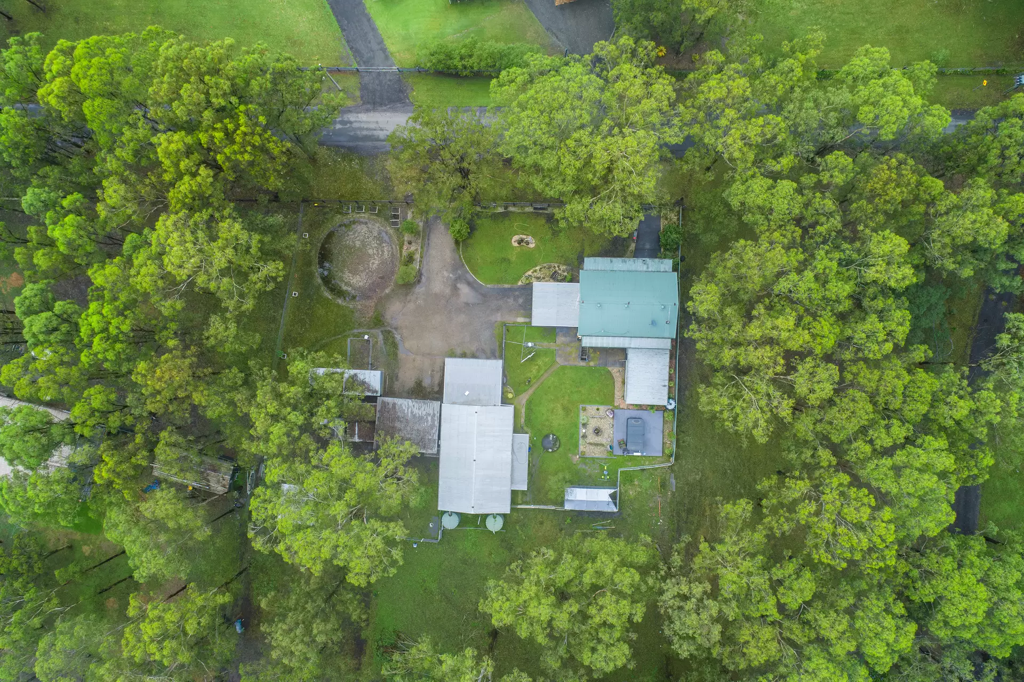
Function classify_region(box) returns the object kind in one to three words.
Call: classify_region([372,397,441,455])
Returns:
barn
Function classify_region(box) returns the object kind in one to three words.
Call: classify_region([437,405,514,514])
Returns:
shed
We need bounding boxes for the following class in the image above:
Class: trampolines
[542,434,559,451]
